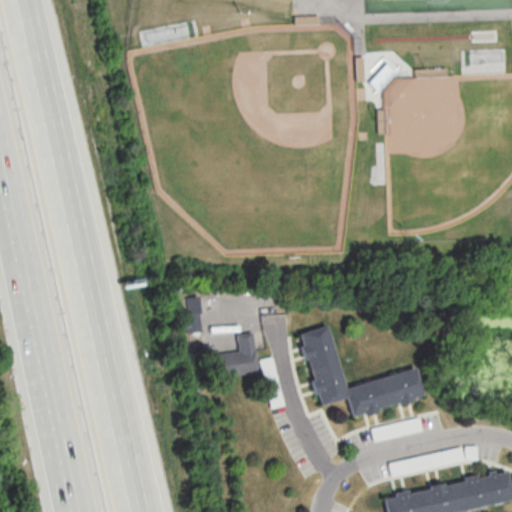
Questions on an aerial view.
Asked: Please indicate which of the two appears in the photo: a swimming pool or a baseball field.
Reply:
baseball field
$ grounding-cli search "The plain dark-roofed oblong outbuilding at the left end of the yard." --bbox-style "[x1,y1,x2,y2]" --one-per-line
[186,298,202,333]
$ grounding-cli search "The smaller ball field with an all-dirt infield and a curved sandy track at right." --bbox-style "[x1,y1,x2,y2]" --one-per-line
[384,74,512,236]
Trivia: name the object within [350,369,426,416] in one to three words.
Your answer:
building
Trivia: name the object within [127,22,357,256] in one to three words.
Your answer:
baseball field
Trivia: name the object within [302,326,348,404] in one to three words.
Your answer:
building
